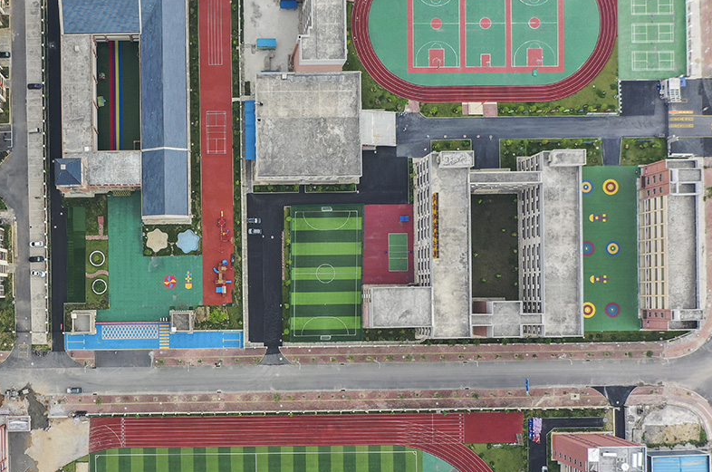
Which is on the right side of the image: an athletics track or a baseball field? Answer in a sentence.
The one visible on the right side of the image is an athletics track.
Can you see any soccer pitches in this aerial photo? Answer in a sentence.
Yes, there's a soccer pitch here.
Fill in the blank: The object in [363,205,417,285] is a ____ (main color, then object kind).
red sports court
